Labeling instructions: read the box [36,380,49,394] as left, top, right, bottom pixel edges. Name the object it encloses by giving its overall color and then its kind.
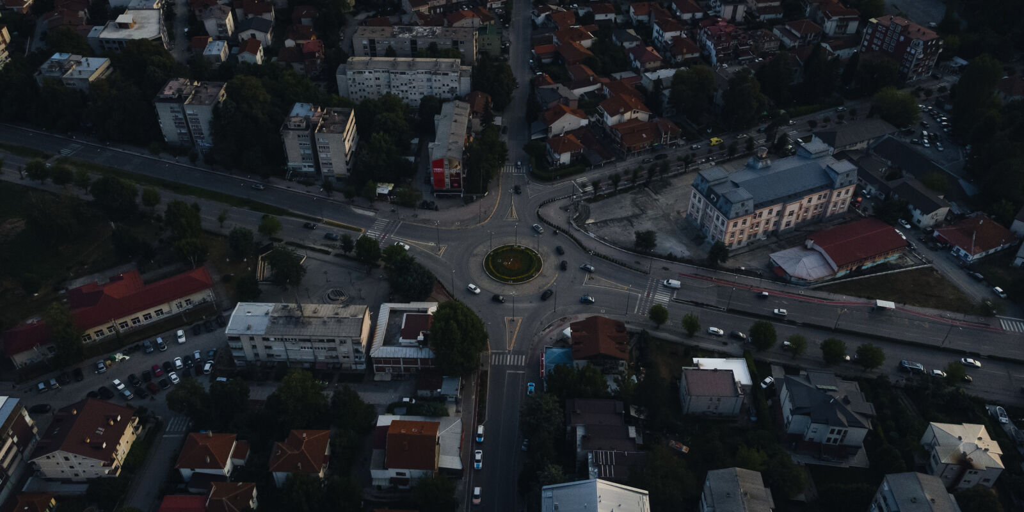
blue vehicle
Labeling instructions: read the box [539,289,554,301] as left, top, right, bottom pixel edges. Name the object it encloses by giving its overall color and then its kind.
black vehicle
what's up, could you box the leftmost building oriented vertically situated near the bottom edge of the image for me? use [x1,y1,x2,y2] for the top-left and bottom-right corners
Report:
[0,398,43,492]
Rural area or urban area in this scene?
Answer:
urban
